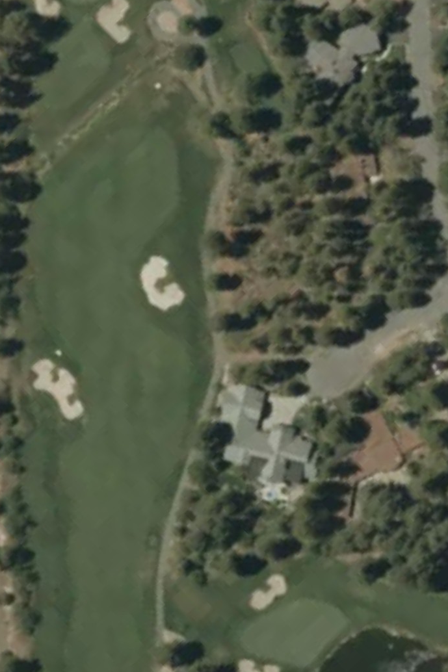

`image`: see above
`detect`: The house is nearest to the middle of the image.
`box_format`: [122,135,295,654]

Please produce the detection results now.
[221,391,312,482]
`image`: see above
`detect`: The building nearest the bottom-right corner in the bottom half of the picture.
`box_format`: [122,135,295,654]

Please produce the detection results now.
[353,411,424,482]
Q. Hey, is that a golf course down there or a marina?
golf course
